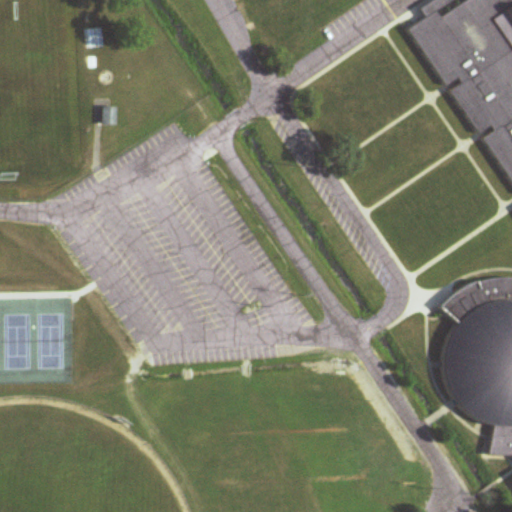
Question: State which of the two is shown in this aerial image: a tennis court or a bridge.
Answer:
tennis court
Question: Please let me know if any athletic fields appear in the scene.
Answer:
Yes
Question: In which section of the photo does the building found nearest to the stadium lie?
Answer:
top right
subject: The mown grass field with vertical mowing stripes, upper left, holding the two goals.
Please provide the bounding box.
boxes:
[0,0,78,196]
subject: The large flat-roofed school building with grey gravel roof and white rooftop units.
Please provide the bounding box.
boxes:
[410,0,512,180]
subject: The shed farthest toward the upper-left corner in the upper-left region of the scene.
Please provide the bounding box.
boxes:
[84,28,102,48]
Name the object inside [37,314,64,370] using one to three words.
tennis court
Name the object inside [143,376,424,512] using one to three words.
sports field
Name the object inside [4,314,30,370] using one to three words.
tennis court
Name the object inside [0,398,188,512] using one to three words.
baseball field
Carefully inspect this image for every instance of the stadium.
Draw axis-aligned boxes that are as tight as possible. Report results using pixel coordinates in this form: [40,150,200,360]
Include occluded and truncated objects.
[442,276,512,456]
